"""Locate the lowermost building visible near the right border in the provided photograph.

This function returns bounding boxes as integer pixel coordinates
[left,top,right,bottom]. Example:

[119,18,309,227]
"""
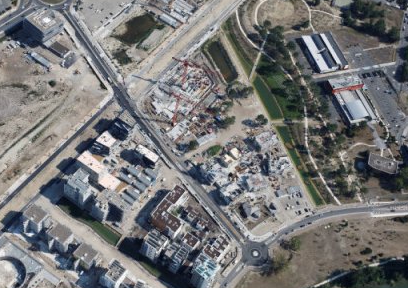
[367,153,398,178]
